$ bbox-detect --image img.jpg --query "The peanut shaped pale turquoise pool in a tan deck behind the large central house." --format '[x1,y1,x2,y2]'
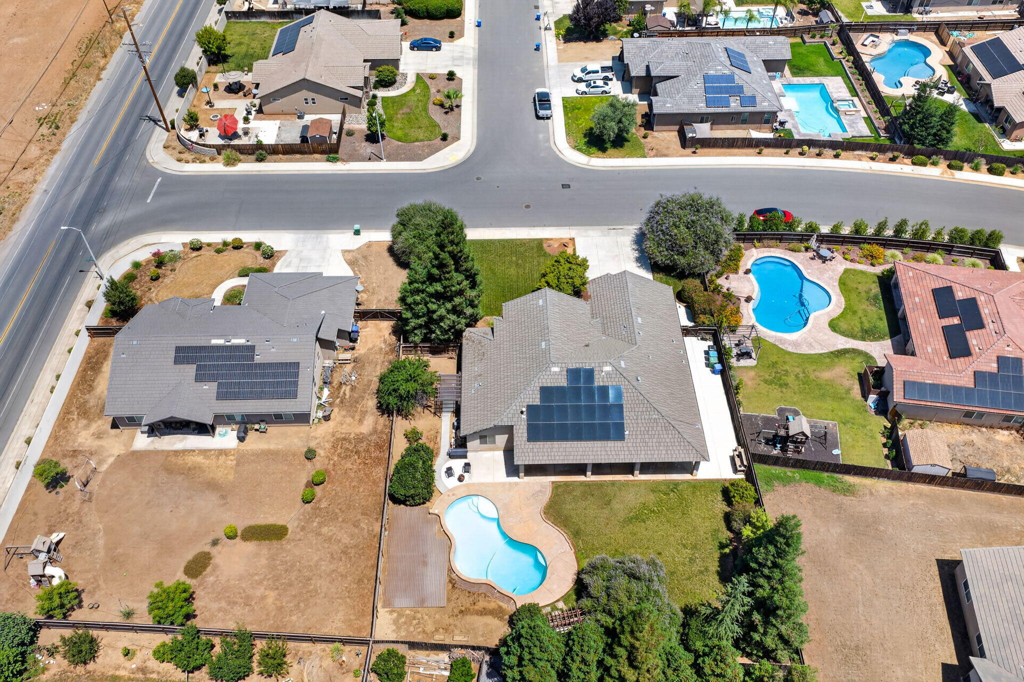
[441,491,551,599]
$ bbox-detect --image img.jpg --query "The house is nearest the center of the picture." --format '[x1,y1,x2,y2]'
[458,270,710,478]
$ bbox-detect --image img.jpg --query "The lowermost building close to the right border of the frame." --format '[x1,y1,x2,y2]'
[954,544,1024,682]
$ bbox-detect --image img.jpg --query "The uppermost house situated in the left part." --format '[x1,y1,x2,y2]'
[252,9,405,114]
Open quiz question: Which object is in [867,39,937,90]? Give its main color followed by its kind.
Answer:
blue swimming pool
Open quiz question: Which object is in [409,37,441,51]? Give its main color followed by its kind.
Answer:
blue car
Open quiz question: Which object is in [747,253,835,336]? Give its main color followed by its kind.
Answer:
blue swimming pool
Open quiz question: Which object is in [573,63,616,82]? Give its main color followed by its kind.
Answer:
white vehicle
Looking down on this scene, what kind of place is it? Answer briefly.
residential area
